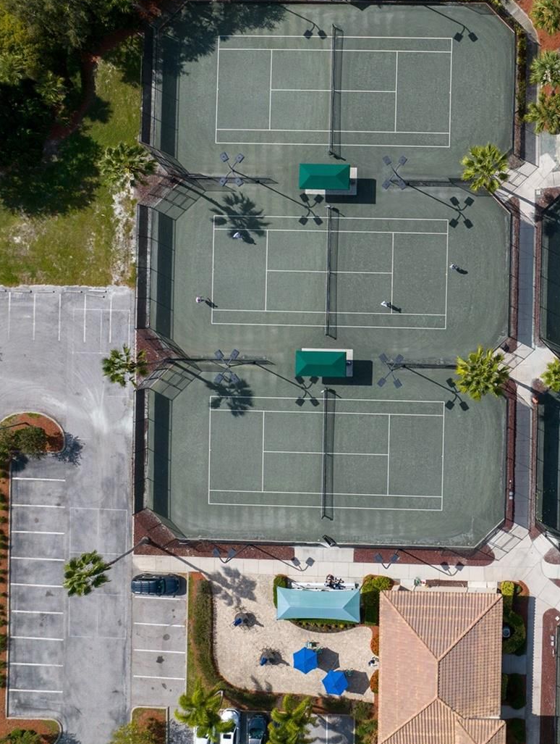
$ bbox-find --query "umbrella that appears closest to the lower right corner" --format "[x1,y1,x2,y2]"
[321,669,347,695]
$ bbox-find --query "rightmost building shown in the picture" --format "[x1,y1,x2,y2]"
[377,585,506,744]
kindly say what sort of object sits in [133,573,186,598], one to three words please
car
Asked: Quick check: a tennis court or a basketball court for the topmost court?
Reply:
tennis court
